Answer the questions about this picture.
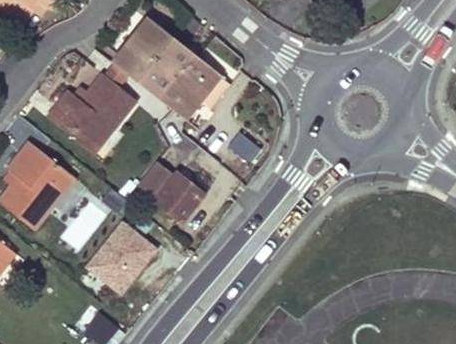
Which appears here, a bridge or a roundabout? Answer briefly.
roundabout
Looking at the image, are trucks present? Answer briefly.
Yes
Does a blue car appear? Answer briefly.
No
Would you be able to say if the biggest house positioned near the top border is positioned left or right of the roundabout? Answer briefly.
to the left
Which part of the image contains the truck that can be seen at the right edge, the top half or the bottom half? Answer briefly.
top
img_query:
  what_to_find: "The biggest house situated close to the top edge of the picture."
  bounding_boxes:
[111,15,222,121]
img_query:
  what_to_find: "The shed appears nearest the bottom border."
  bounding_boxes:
[84,311,120,344]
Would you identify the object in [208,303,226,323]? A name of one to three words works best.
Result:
car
